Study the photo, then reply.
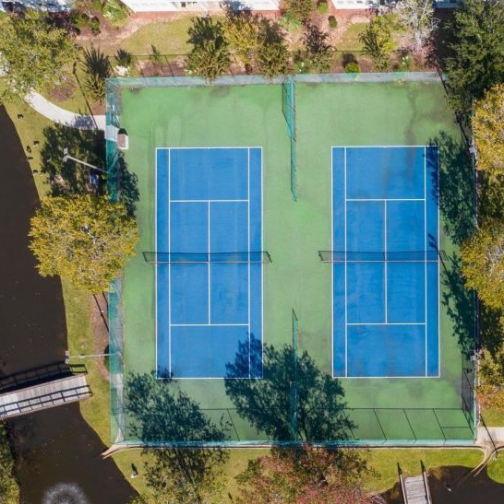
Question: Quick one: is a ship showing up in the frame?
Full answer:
No, the photo shows no ship.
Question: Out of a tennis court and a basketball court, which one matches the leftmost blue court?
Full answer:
Specifically, the leftmost blue court is a tennis court.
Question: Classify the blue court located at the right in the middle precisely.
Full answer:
From above, the blue court located at the right in the middle can be identified as a tennis court.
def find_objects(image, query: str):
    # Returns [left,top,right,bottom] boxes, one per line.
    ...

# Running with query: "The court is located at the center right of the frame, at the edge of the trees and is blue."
[332,146,439,377]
